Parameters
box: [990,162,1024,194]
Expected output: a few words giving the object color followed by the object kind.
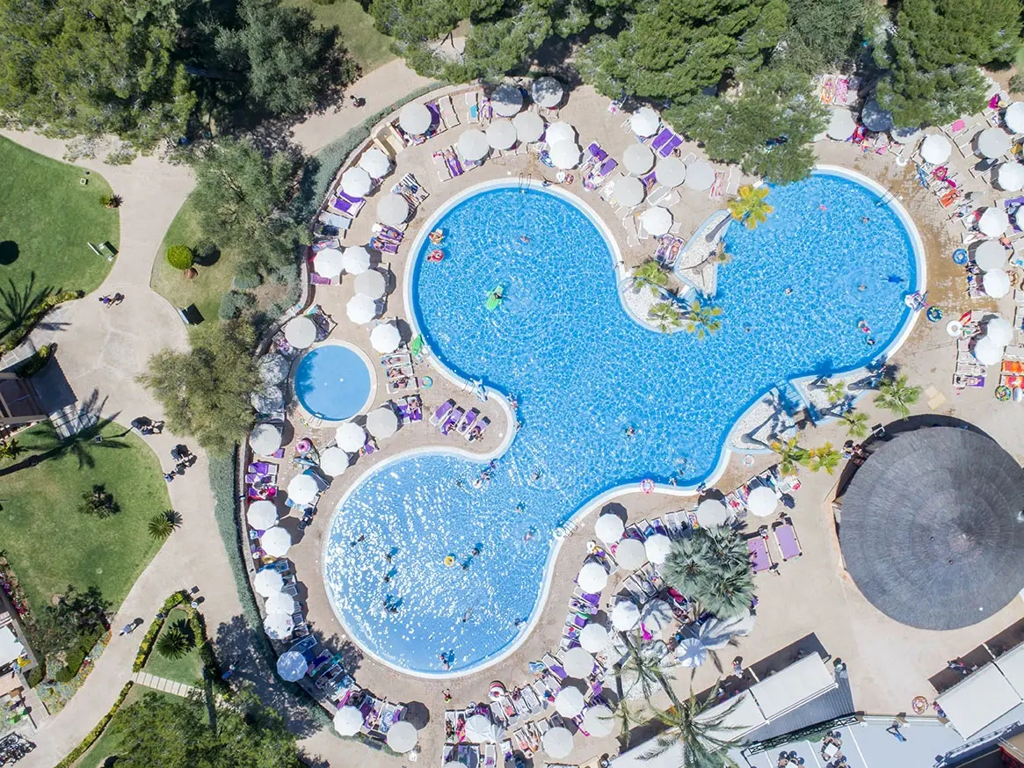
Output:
white umbrella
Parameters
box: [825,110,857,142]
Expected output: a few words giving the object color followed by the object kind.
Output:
white umbrella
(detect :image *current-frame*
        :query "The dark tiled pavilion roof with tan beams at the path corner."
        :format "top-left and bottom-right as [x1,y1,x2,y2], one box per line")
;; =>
[0,375,63,426]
